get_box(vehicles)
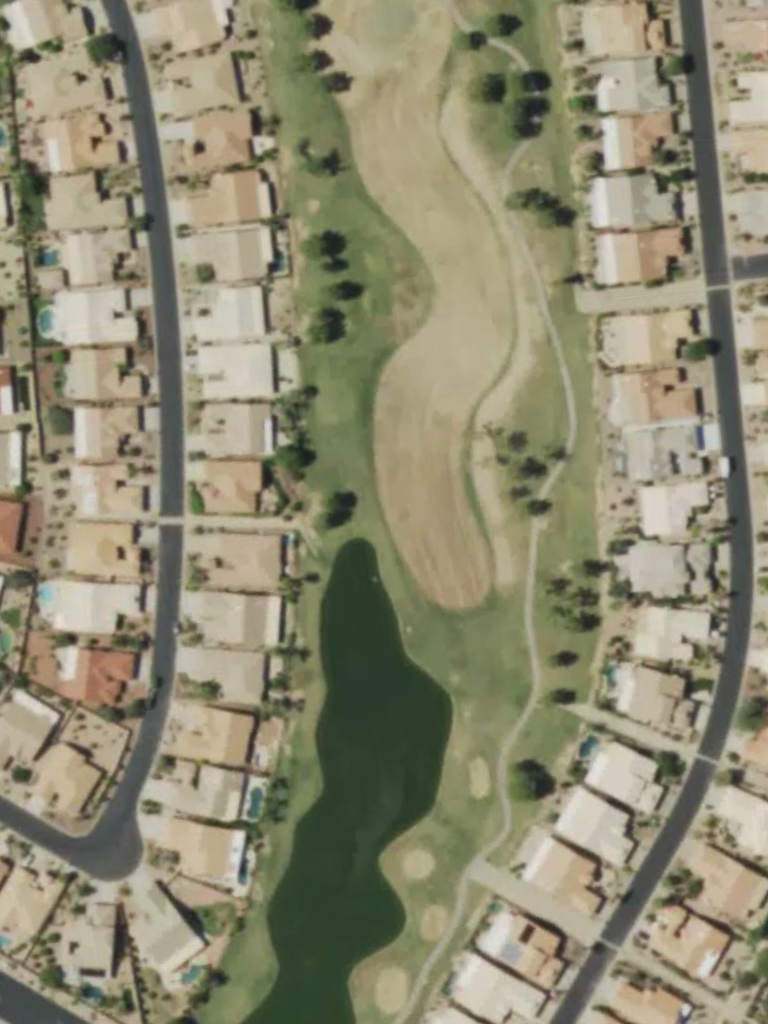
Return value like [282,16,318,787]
[719,457,729,476]
[172,624,178,633]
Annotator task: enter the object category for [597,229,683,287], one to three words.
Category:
house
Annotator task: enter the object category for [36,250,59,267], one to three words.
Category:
swimming pool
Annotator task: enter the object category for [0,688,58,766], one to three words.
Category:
house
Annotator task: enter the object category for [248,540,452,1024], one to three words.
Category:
pond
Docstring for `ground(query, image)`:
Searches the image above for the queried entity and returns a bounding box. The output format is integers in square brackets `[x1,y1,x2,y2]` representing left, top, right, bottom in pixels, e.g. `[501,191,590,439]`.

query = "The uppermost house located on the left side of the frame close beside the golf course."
[155,0,231,51]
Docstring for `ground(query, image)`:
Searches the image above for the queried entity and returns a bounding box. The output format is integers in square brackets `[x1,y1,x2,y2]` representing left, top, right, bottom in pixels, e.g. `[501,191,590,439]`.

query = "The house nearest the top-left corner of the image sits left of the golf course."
[7,0,89,49]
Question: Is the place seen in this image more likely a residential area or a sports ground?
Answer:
residential area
